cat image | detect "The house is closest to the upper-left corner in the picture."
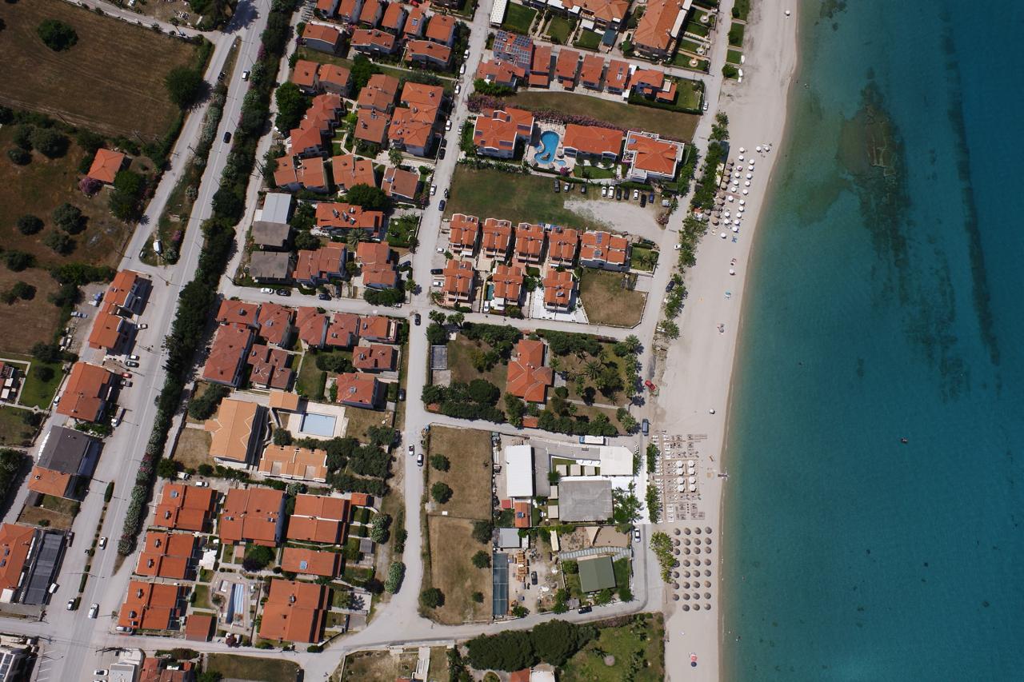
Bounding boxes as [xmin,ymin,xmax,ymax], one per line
[88,149,131,186]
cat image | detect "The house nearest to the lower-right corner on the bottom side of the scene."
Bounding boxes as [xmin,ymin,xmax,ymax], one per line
[578,557,615,593]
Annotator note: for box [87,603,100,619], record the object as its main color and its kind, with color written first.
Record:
white vehicle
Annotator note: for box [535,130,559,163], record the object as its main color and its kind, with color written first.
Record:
blue swimming pool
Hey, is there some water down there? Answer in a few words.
Yes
